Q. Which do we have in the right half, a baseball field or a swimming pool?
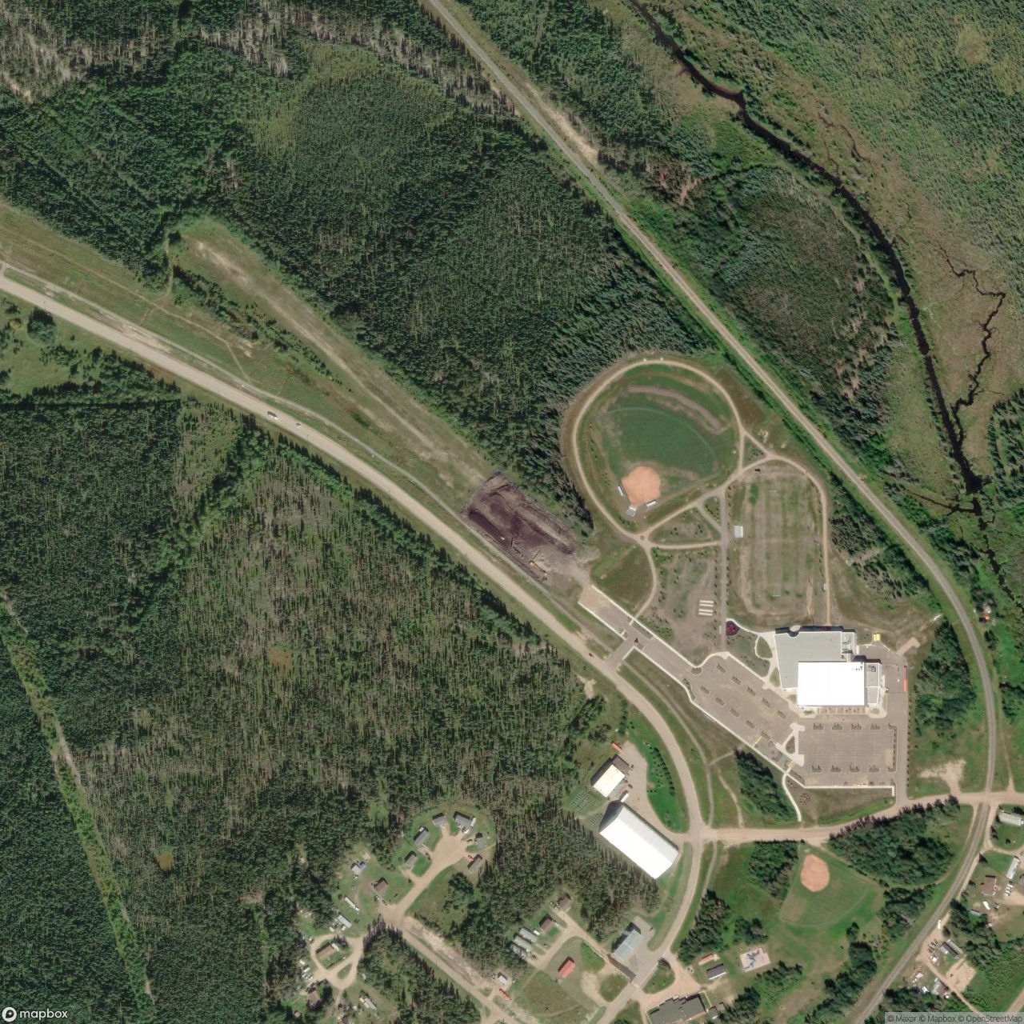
baseball field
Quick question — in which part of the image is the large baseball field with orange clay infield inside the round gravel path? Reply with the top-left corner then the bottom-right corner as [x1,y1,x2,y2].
[596,384,720,507]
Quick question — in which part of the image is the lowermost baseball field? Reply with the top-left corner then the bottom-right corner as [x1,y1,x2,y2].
[780,849,872,926]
